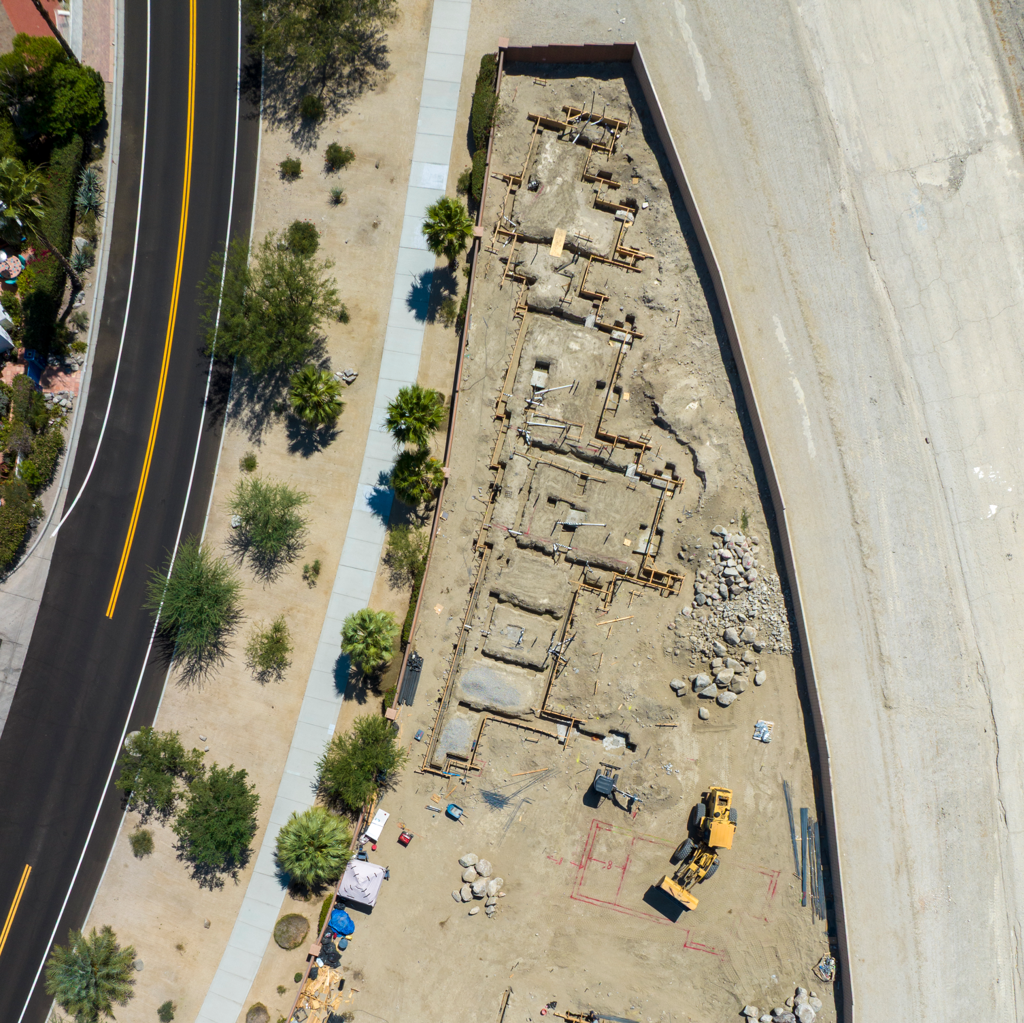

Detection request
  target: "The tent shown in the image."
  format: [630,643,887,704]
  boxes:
[337,853,389,906]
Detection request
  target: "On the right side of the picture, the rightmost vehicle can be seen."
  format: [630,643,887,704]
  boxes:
[655,784,738,913]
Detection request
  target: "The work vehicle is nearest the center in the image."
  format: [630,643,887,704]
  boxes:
[591,761,642,802]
